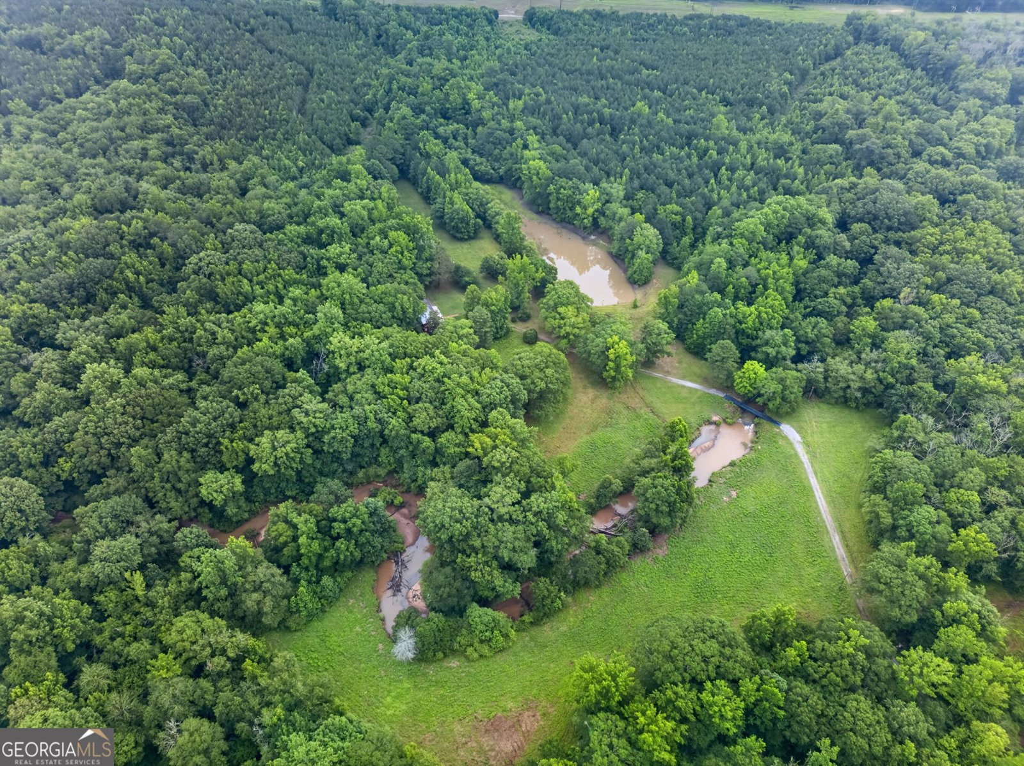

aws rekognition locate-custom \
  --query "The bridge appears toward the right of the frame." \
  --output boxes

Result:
[721,391,790,429]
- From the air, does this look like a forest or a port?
forest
